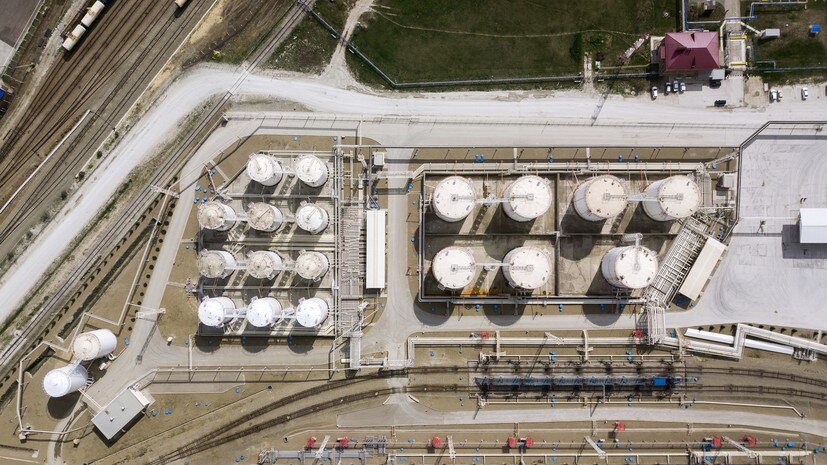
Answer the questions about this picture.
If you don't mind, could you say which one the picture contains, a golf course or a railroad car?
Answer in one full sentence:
I can see a railroad car in this picture.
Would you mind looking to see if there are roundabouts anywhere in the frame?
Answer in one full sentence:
No, there appears to be no roundabout in this shot.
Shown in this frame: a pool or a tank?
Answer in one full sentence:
Looking from above, you can make out a tank.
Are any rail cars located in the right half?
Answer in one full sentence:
No, no rail car can be made out in the right half.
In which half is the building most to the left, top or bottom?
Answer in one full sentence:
The bottom half of the photo is where the building most to the left is.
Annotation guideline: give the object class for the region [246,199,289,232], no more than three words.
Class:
storage tank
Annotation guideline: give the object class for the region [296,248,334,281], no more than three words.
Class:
storage tank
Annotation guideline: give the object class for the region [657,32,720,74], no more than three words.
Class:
house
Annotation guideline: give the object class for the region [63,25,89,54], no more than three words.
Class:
rail car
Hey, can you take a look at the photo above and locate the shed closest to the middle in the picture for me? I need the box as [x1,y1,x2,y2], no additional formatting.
[367,211,385,288]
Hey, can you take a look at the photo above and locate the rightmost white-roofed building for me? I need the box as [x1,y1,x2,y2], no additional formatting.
[791,208,827,243]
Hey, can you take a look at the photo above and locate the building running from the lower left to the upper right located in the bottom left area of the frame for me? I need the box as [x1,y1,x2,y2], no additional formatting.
[90,384,153,439]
